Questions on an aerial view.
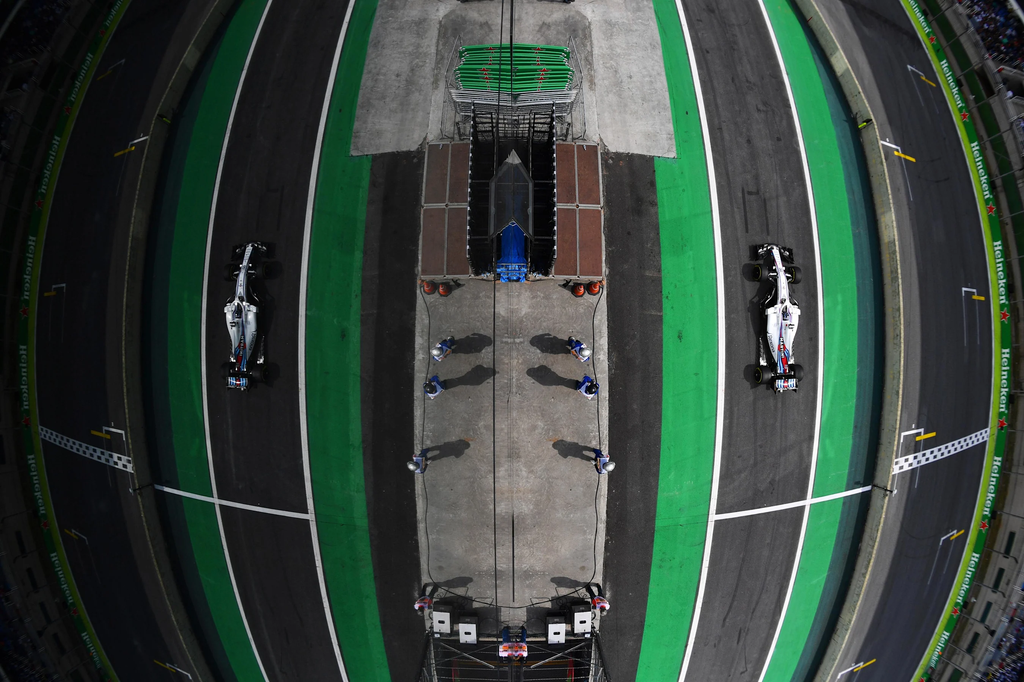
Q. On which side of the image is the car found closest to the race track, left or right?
right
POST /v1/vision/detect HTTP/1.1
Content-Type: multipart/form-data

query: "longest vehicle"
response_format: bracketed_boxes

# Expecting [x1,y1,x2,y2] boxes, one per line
[751,244,808,394]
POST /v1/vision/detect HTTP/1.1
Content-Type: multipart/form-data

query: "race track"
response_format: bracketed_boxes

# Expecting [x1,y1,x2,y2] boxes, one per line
[839,0,993,682]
